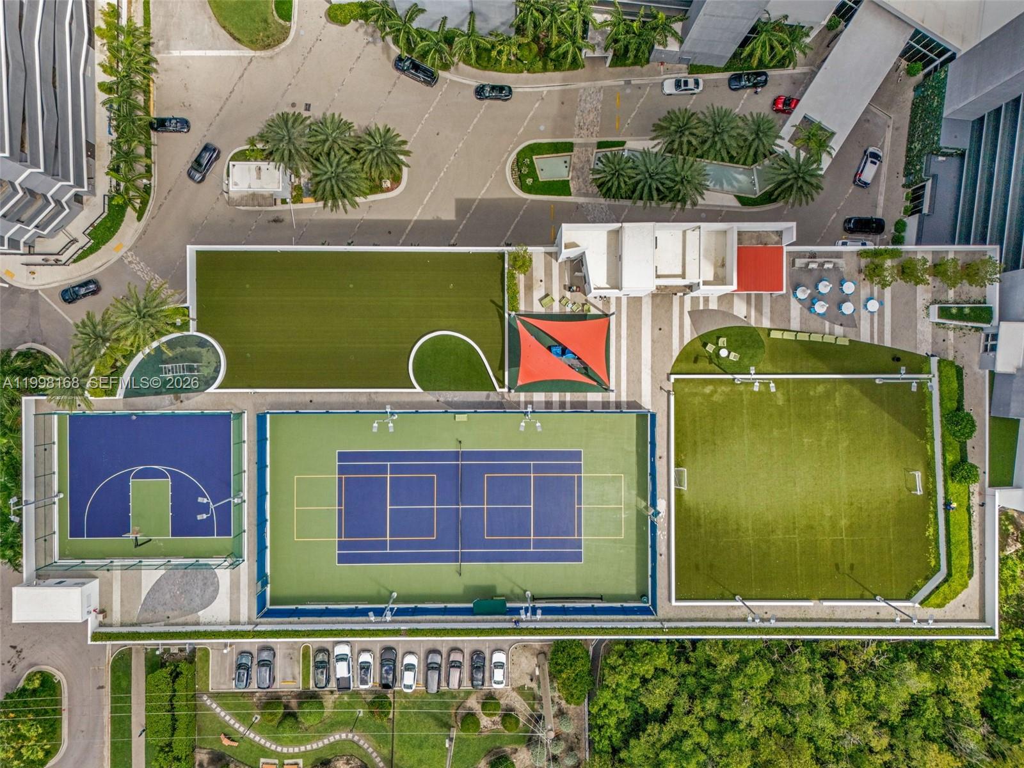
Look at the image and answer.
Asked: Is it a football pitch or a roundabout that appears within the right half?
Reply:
football pitch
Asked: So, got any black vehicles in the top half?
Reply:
Yes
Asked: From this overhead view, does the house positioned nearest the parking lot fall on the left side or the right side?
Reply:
left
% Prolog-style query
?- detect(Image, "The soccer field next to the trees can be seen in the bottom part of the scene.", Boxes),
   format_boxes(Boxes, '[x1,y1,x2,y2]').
[670,358,948,606]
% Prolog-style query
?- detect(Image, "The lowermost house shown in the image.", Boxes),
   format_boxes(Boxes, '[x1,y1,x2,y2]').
[12,579,98,624]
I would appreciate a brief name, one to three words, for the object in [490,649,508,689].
car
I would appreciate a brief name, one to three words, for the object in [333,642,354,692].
truck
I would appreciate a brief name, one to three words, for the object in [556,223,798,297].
building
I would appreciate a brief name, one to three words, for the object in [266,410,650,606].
tennis court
